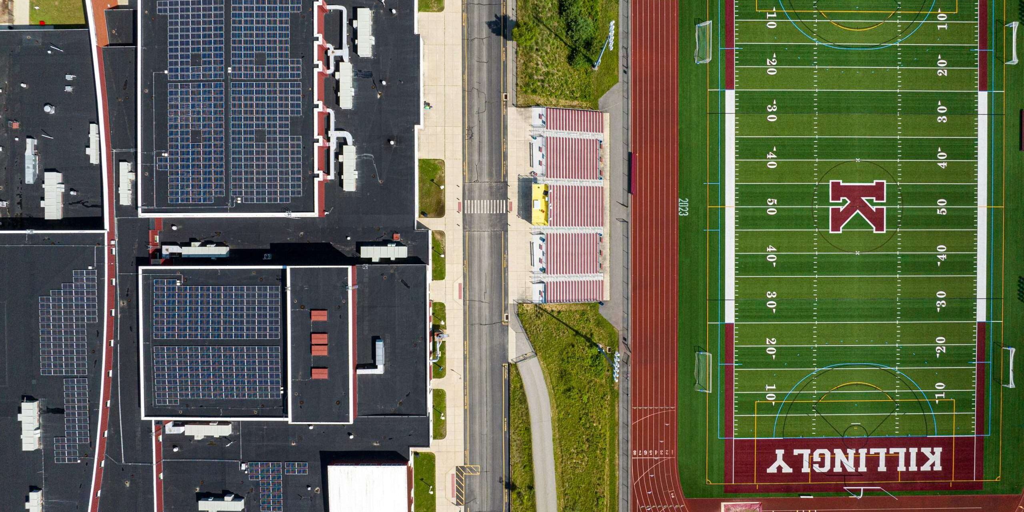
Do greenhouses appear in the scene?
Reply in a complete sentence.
No, I find no greenhouse anywhere in the image.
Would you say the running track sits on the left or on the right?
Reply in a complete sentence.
You can find the running track on the right side of the picture.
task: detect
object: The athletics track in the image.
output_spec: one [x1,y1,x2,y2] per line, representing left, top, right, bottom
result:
[632,0,1024,512]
